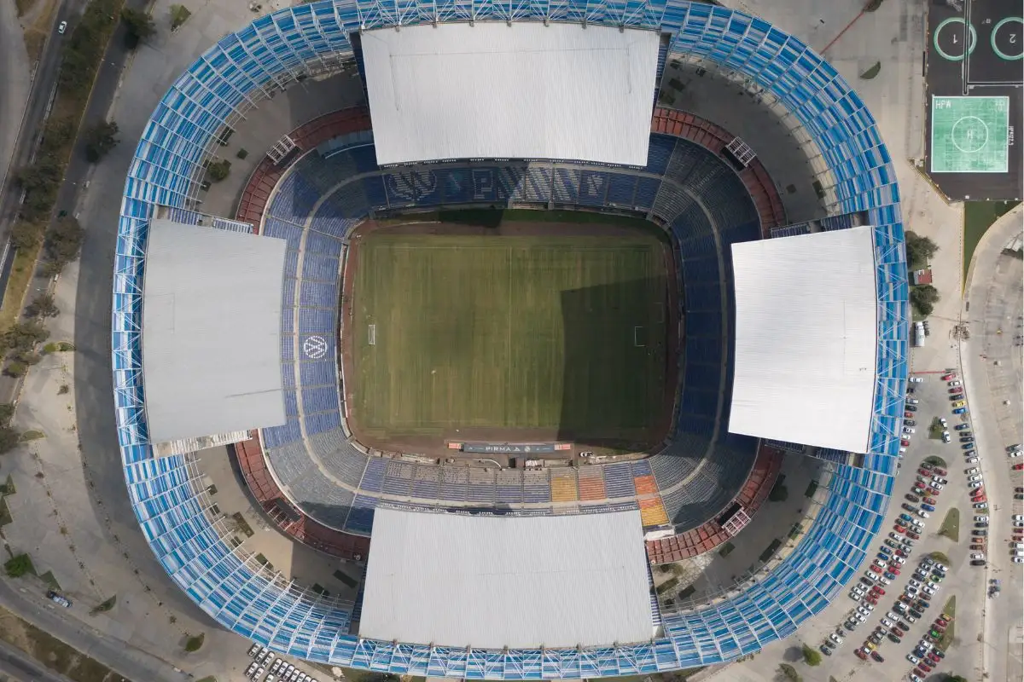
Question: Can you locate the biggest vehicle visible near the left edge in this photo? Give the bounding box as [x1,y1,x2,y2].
[49,591,69,607]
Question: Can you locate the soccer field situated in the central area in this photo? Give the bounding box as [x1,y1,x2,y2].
[340,208,680,465]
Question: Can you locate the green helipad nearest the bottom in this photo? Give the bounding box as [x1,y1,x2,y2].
[931,95,1014,173]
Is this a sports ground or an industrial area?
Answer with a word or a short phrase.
sports ground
